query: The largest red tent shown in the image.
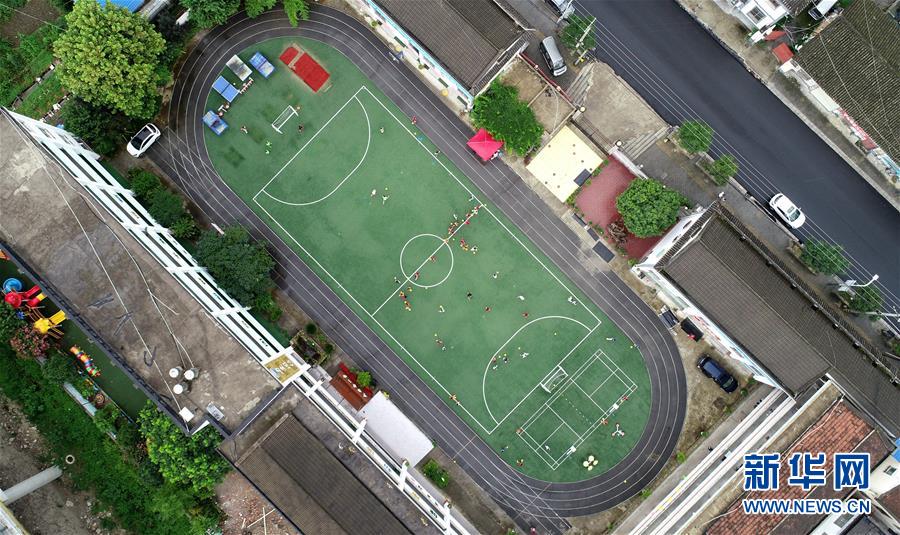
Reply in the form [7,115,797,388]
[470,123,504,159]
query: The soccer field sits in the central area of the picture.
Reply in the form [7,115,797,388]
[204,37,651,484]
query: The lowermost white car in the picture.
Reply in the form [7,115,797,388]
[767,192,804,228]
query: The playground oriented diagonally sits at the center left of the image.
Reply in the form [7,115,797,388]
[2,275,67,339]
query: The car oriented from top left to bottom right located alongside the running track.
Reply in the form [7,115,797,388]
[695,354,736,392]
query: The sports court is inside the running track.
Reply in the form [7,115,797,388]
[517,350,637,470]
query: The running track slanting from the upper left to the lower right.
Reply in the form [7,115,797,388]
[108,2,686,535]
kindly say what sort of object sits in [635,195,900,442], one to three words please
building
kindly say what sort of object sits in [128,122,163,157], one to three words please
car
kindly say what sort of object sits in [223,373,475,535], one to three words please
building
